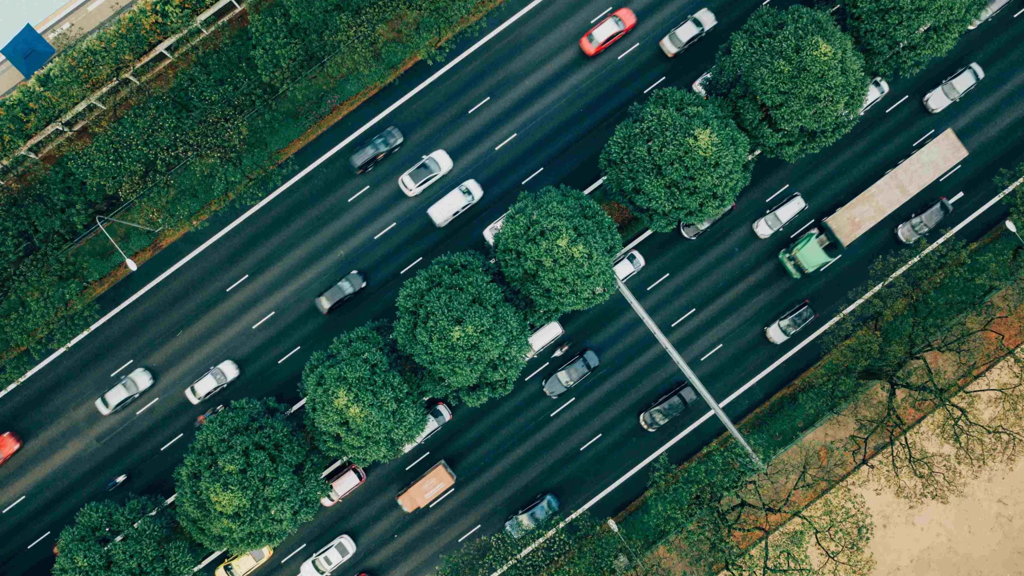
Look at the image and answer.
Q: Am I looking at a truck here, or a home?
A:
truck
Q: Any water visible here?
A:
No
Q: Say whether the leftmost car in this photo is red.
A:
Yes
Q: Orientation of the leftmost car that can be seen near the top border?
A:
at an angle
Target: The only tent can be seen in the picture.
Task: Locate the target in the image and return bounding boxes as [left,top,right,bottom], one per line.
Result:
[0,23,67,80]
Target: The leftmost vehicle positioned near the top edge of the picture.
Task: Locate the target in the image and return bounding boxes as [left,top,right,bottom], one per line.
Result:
[579,9,637,59]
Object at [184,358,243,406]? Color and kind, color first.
white car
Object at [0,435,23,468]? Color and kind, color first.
red car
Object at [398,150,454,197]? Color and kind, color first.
white car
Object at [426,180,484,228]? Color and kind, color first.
white van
